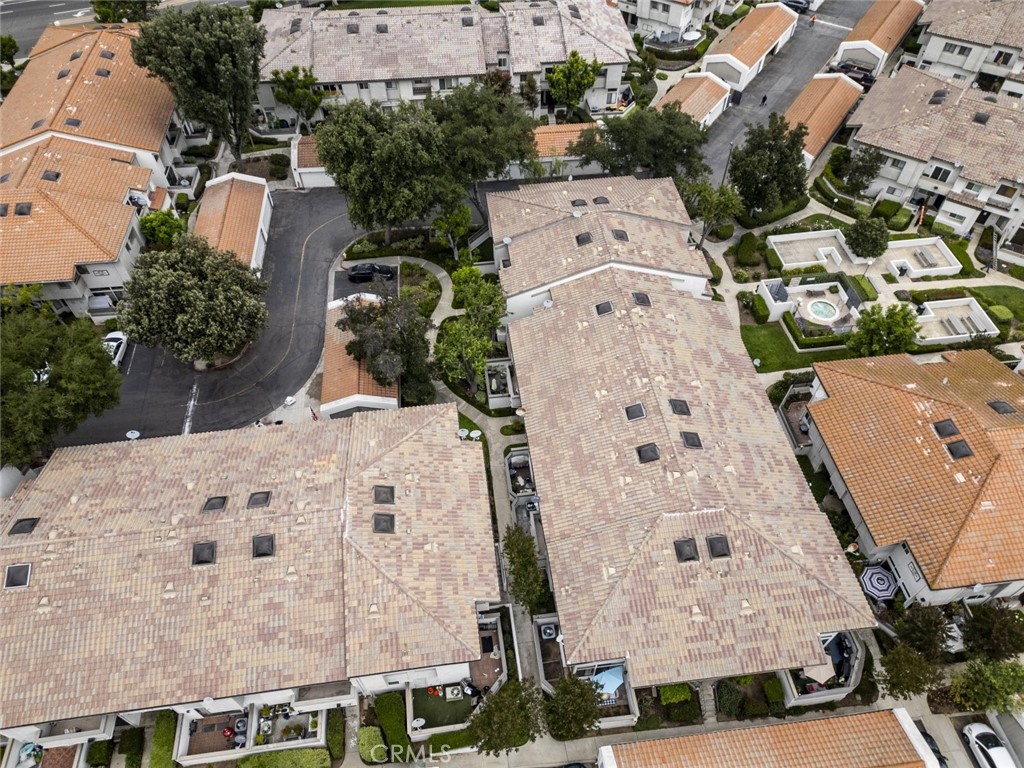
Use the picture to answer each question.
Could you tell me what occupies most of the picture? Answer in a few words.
buildings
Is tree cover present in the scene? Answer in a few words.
Yes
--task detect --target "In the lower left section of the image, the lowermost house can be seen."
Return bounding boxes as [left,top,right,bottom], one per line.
[0,402,502,749]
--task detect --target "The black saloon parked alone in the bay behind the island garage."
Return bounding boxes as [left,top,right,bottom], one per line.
[347,259,395,282]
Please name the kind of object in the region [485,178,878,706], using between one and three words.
house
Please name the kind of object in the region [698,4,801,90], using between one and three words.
building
